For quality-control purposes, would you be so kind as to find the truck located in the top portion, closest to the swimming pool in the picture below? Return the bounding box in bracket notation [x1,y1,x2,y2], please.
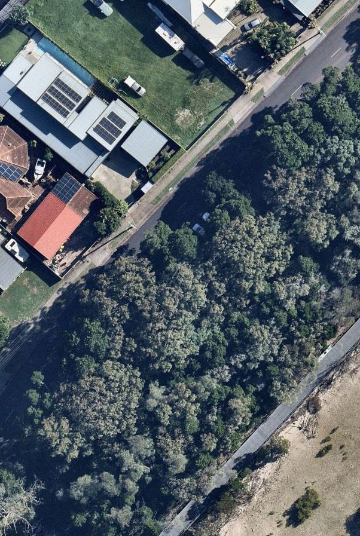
[122,73,147,99]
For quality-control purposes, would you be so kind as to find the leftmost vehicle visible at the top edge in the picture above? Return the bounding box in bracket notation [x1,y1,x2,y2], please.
[91,0,114,18]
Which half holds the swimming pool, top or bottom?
top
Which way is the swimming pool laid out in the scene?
diagonally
